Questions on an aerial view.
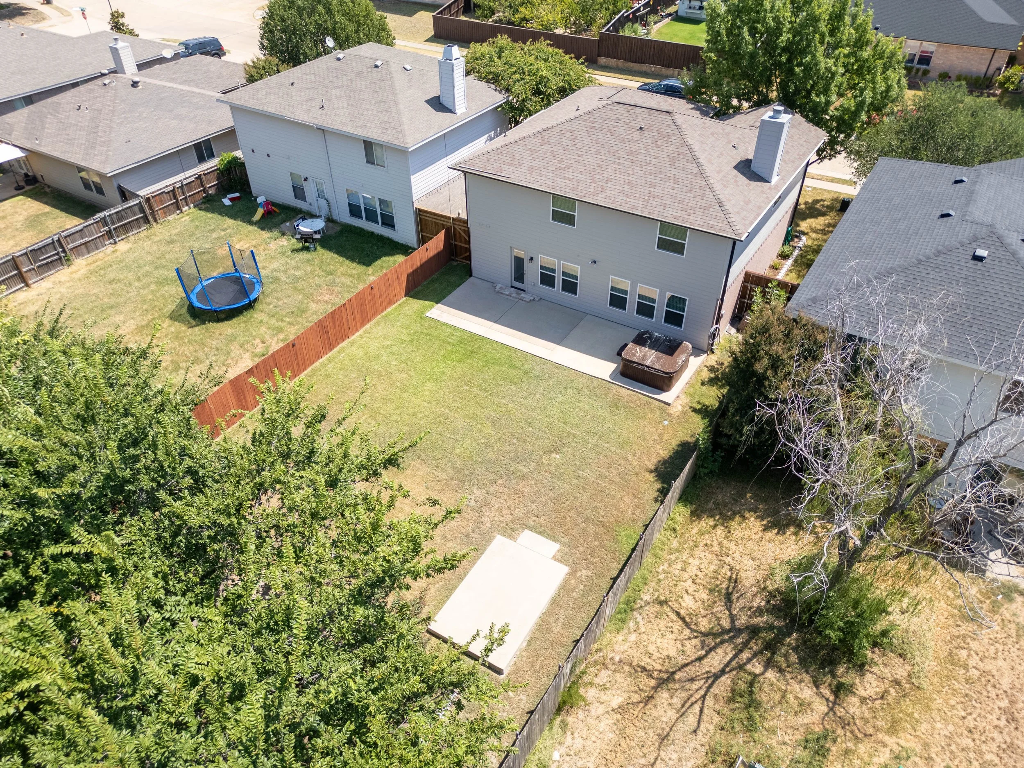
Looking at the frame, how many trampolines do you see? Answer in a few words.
1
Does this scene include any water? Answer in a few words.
No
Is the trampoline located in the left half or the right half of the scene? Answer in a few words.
left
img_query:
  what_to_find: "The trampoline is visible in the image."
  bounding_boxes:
[177,242,268,328]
